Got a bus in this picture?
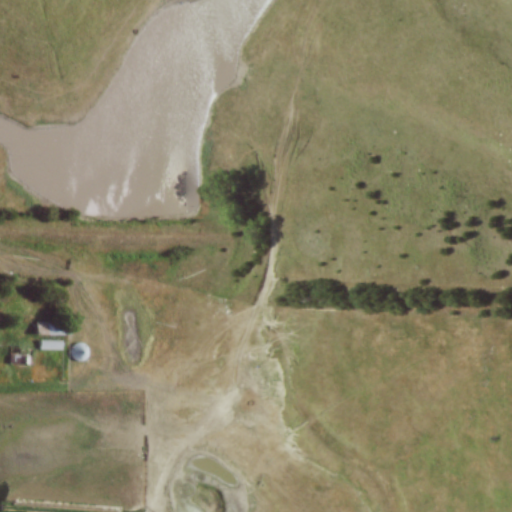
No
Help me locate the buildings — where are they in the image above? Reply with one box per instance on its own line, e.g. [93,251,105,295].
[38,322,66,335]
[10,350,32,366]
[40,340,64,351]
